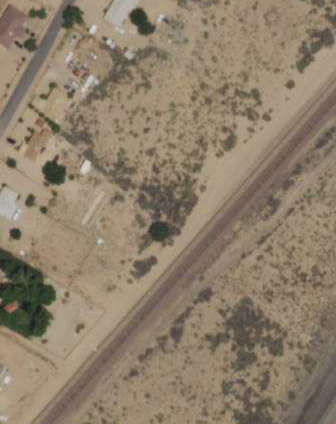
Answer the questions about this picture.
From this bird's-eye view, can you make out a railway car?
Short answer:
No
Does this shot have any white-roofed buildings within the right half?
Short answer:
No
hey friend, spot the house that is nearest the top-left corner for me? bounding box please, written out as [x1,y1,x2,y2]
[0,5,26,50]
